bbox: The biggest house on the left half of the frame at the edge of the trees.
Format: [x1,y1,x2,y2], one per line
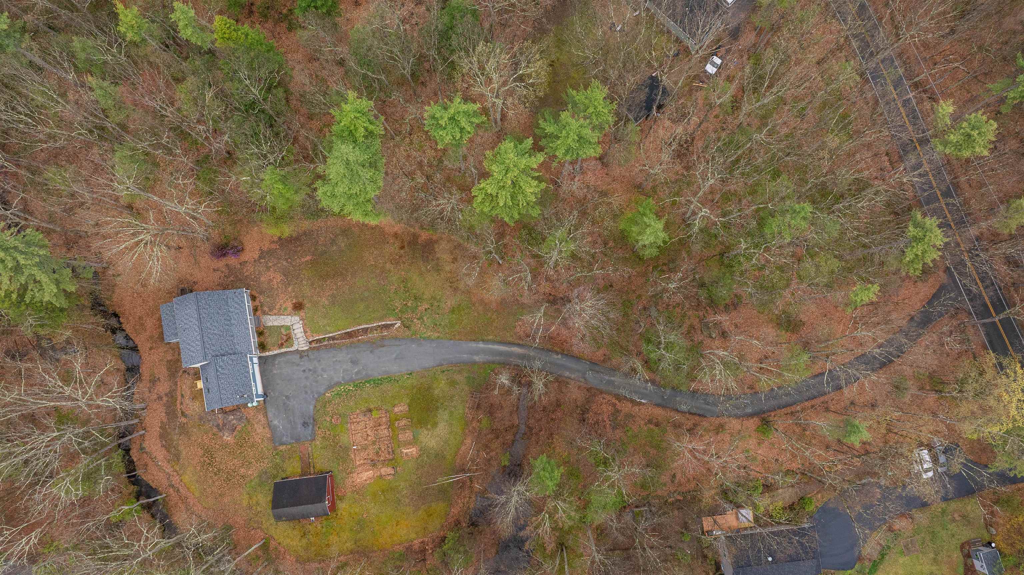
[160,288,263,410]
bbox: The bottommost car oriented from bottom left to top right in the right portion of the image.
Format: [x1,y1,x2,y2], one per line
[706,54,723,75]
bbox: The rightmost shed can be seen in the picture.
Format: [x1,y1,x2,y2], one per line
[970,546,1006,575]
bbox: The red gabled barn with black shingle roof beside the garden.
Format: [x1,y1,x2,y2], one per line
[270,468,336,523]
